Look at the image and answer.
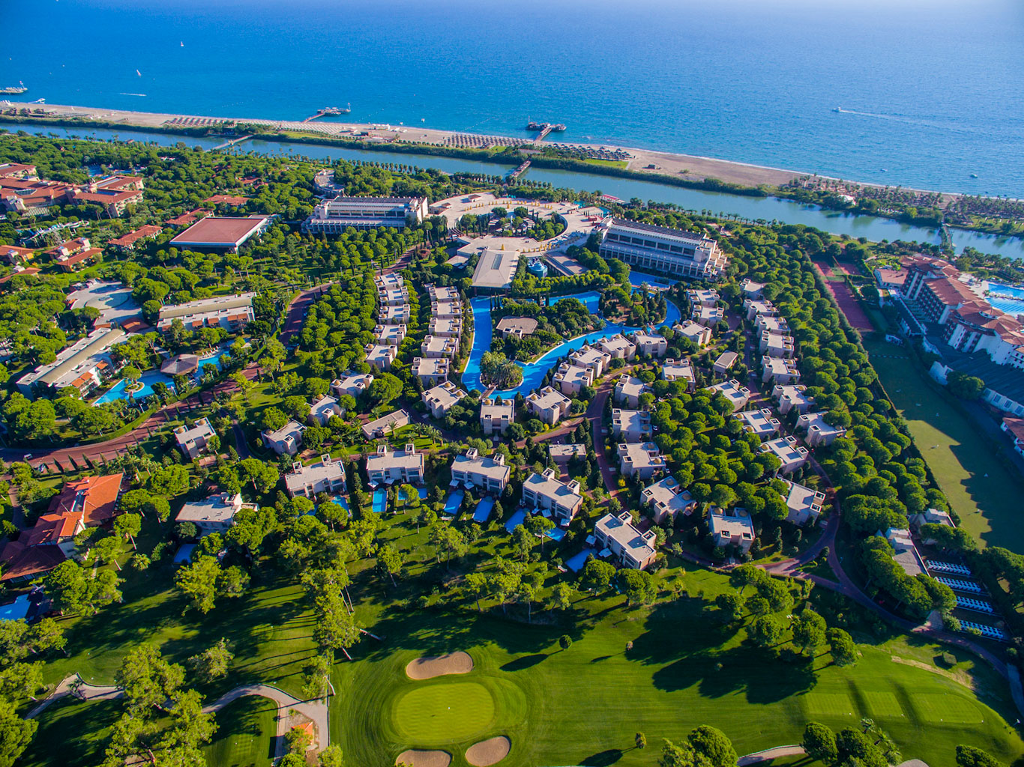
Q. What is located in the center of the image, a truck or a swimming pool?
swimming pool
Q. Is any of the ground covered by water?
Yes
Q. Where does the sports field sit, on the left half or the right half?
right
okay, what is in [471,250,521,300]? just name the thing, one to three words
building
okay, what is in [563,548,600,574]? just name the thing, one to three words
swimming pool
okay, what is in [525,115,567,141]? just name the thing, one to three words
pier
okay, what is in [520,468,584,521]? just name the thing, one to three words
house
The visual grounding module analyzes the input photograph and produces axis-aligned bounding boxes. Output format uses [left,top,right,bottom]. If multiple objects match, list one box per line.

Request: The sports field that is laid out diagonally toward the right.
[862,336,1024,552]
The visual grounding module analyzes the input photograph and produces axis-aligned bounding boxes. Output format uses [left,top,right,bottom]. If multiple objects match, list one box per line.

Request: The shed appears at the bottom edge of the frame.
[287,711,323,749]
